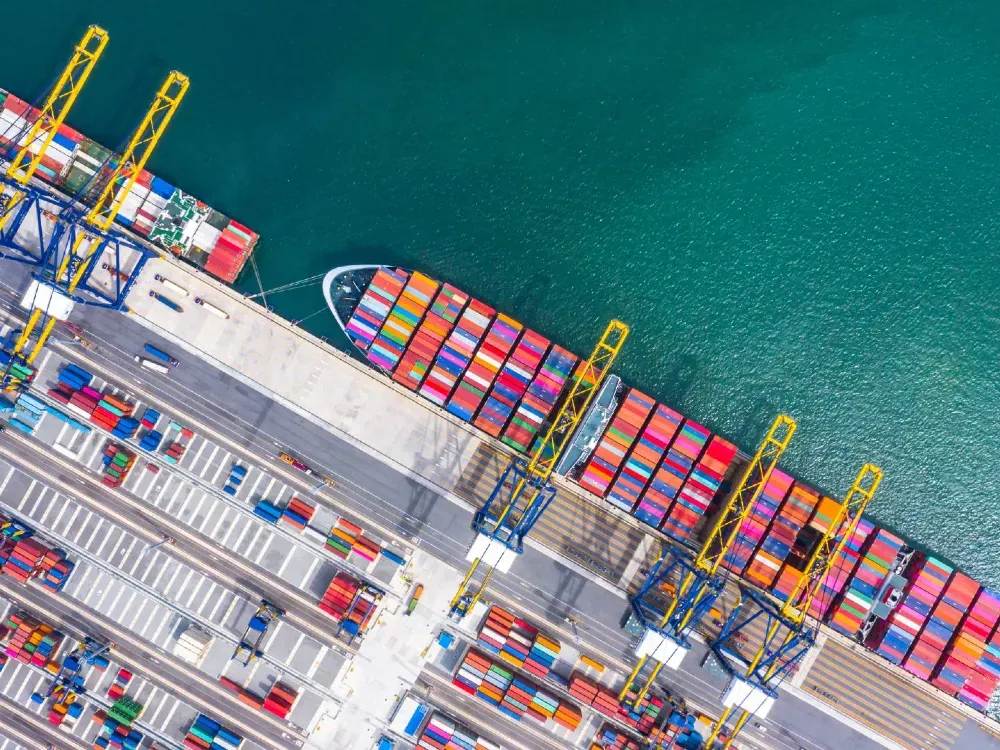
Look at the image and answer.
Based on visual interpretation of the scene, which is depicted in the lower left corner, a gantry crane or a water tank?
gantry crane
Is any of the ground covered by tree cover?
No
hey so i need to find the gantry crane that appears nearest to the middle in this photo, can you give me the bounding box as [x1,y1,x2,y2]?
[449,320,627,618]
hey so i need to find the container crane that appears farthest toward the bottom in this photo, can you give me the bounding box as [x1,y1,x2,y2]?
[647,688,697,750]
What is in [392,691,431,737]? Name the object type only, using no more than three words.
building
